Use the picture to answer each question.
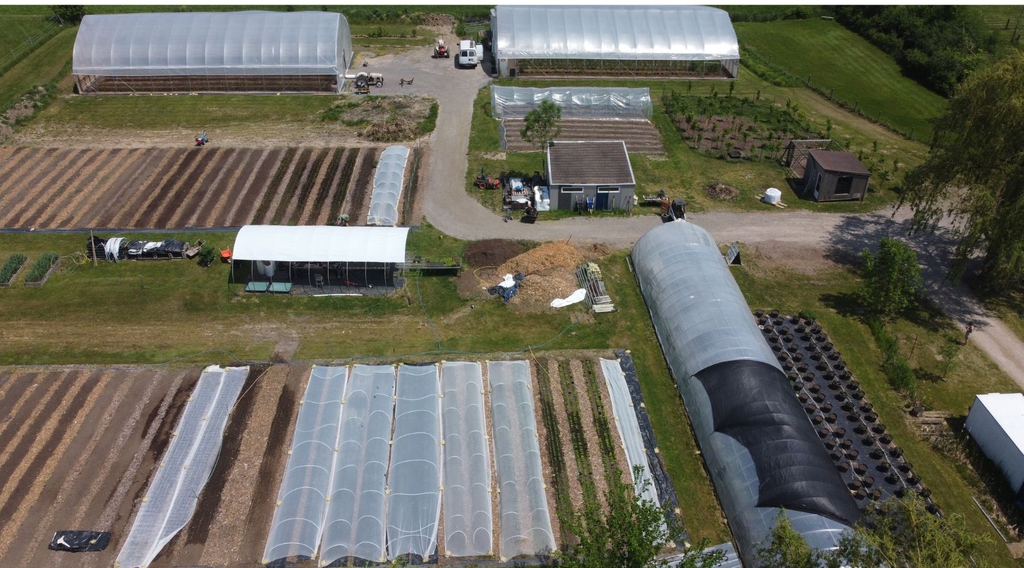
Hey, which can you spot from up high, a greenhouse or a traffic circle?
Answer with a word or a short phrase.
greenhouse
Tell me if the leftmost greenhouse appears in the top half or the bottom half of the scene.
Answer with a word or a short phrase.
top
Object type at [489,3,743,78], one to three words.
greenhouse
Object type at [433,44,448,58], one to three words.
work vehicle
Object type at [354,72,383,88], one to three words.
work vehicle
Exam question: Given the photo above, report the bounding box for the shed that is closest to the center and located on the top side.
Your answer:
[546,139,639,212]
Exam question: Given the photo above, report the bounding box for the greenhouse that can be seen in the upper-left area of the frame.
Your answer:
[70,9,354,93]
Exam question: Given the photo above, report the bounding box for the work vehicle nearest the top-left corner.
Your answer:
[191,124,217,145]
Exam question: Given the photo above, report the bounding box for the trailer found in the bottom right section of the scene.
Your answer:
[968,391,1024,486]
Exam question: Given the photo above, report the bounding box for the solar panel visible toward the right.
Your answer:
[725,239,743,265]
